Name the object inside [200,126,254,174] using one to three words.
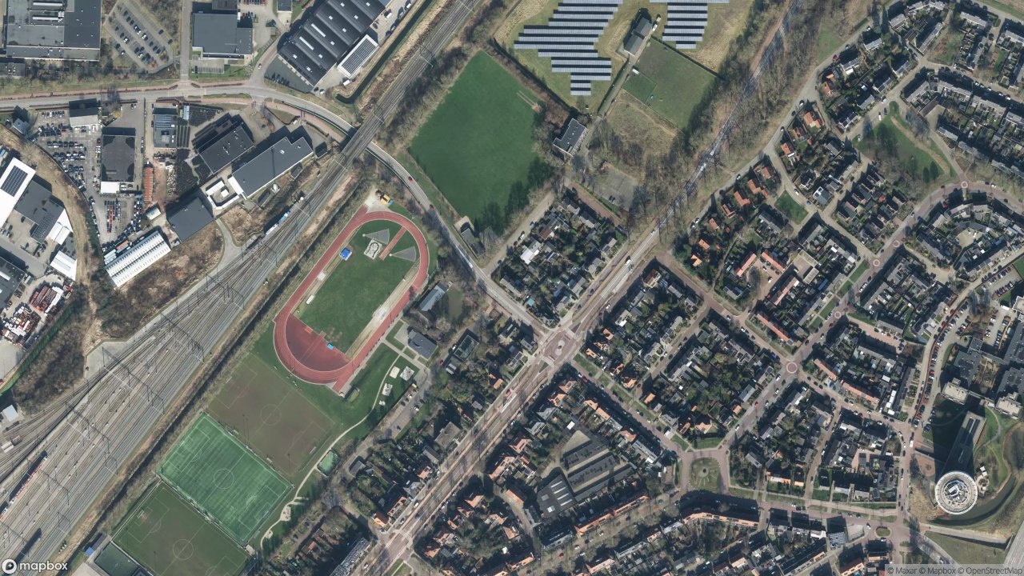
building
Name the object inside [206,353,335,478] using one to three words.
soccer field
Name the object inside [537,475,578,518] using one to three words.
building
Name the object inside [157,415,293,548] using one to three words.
soccer field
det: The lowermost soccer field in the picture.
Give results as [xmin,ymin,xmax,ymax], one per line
[111,483,248,576]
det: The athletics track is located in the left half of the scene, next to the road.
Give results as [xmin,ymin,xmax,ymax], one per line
[272,190,430,386]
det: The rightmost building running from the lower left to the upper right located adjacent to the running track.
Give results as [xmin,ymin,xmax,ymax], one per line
[419,283,448,312]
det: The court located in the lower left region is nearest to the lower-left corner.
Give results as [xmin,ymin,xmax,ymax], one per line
[93,542,138,576]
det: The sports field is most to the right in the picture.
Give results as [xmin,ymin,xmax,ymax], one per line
[408,51,546,237]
